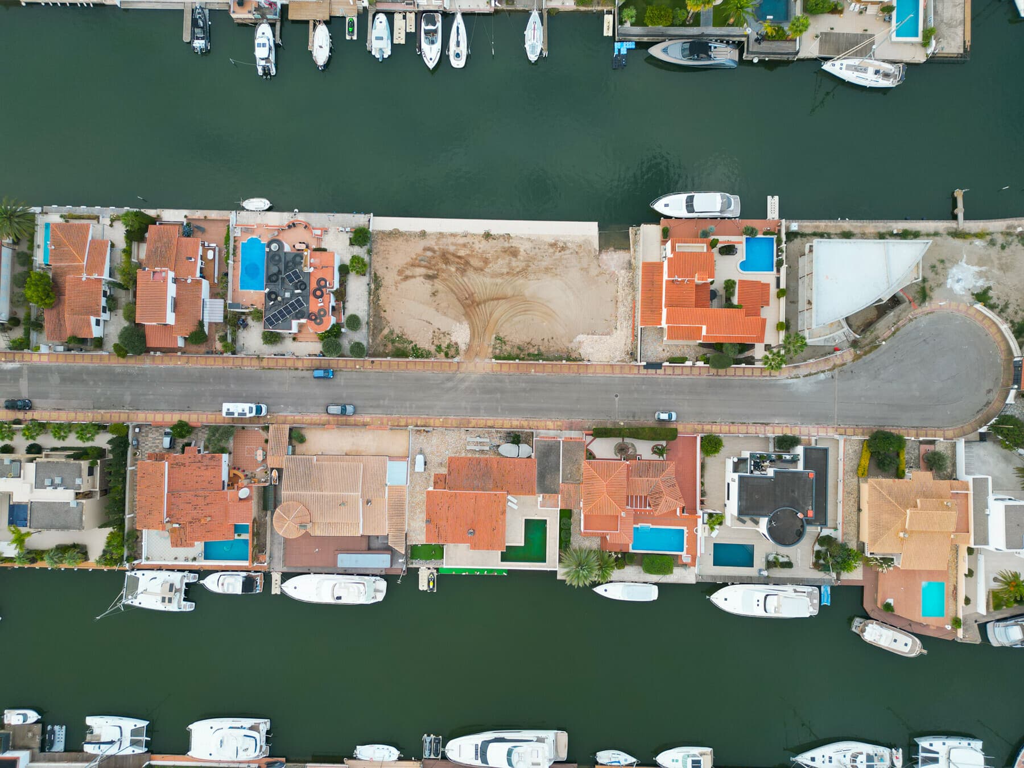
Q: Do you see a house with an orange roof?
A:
Yes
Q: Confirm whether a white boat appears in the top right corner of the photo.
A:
Yes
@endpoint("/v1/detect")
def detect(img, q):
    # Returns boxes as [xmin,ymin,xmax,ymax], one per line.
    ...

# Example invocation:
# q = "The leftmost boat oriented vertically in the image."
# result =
[44,721,56,752]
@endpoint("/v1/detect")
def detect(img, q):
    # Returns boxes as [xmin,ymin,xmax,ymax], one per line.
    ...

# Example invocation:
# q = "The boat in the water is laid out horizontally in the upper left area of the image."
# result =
[235,197,271,211]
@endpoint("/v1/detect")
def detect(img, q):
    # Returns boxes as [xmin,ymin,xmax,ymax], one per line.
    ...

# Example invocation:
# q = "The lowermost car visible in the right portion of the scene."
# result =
[654,409,676,423]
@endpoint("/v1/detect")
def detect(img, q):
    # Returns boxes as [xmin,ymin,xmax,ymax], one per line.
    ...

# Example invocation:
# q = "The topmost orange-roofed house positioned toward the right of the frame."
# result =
[639,238,770,345]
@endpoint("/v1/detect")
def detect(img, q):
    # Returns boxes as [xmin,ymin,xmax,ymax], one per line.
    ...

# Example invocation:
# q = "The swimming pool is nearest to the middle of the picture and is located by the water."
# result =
[499,517,549,565]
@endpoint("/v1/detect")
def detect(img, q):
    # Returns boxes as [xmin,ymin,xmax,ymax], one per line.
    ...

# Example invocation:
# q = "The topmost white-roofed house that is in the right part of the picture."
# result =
[797,239,932,346]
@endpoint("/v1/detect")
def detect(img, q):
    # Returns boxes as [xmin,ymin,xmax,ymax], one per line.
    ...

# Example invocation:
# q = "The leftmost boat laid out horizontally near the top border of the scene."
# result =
[648,38,742,71]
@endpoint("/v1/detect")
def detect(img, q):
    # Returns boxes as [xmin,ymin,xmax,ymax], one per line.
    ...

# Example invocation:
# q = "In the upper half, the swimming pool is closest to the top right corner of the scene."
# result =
[891,0,924,42]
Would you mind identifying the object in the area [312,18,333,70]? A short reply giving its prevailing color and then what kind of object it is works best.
white boat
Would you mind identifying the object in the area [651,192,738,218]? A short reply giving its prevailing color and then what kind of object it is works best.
white boat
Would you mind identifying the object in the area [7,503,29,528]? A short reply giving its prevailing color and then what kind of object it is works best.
blue swimming pool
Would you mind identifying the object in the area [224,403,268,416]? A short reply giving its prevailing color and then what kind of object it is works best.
white vehicle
